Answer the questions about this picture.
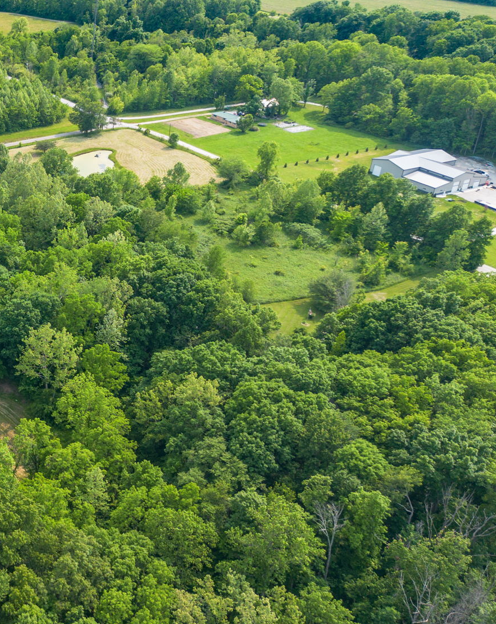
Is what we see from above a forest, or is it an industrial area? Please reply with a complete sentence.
It's a forest.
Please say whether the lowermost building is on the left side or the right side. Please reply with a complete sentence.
It is on the right.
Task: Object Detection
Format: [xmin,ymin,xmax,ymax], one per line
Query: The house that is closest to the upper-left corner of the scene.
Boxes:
[211,110,242,129]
